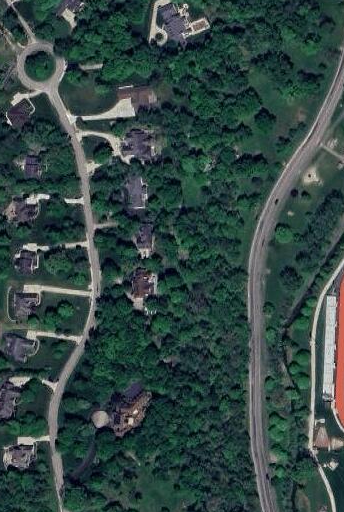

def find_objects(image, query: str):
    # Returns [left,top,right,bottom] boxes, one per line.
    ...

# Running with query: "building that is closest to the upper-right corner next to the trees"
[159,1,187,37]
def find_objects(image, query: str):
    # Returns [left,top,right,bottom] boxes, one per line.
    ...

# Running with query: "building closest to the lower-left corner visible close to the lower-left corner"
[8,448,33,468]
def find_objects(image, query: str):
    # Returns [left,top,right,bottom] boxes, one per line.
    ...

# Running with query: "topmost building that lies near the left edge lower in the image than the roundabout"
[7,101,32,126]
